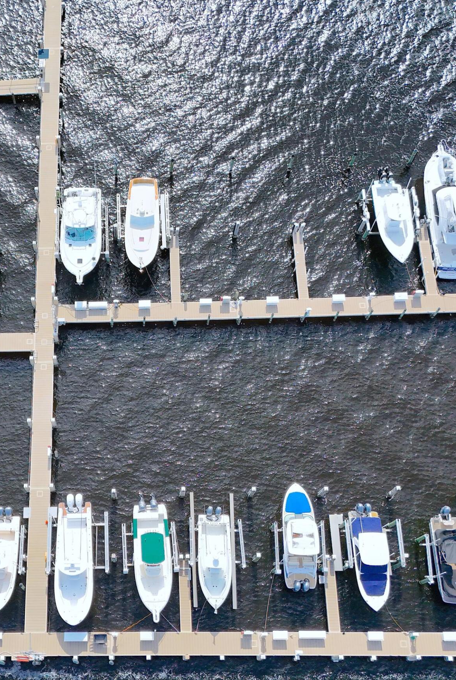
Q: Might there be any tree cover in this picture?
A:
No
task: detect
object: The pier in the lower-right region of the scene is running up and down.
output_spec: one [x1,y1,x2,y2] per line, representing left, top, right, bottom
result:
[325,559,341,632]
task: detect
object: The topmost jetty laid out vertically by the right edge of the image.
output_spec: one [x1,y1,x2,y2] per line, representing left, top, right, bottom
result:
[420,226,437,294]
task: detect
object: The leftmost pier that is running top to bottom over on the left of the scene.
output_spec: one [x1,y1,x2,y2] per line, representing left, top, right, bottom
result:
[24,0,62,633]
